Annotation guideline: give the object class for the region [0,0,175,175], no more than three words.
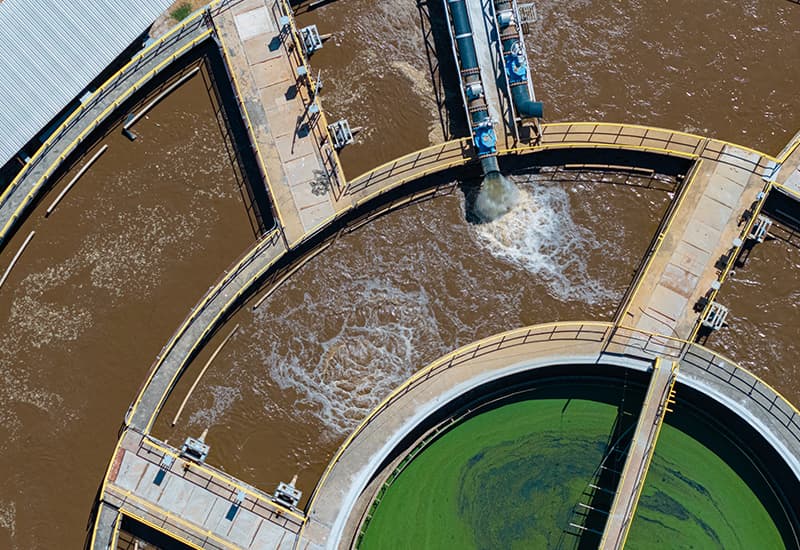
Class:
shed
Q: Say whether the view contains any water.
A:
Yes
